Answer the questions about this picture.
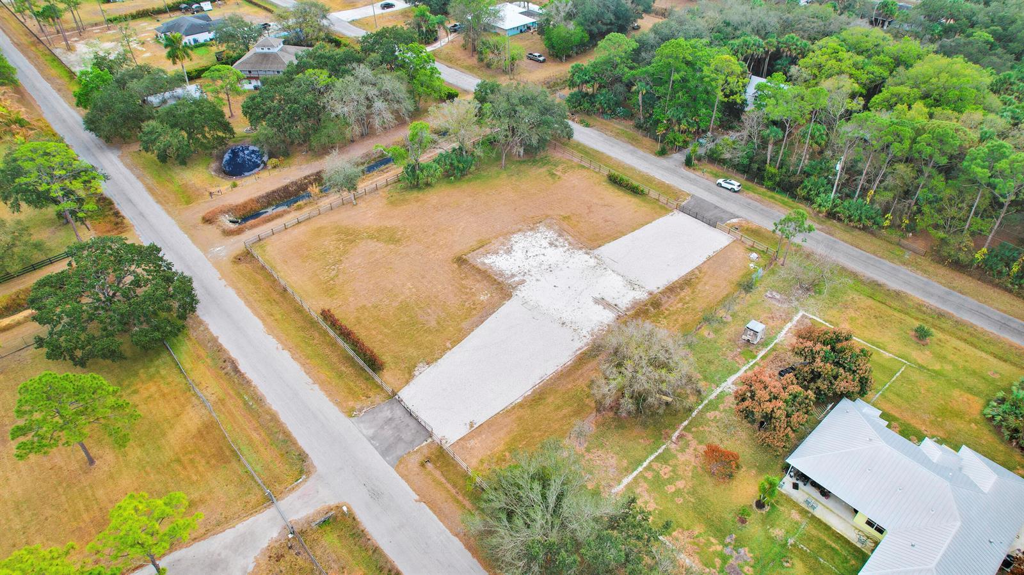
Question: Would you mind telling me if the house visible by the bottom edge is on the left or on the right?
right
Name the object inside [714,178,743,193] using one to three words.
car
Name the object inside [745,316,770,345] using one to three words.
shed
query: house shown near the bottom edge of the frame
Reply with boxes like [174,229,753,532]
[785,397,1024,575]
